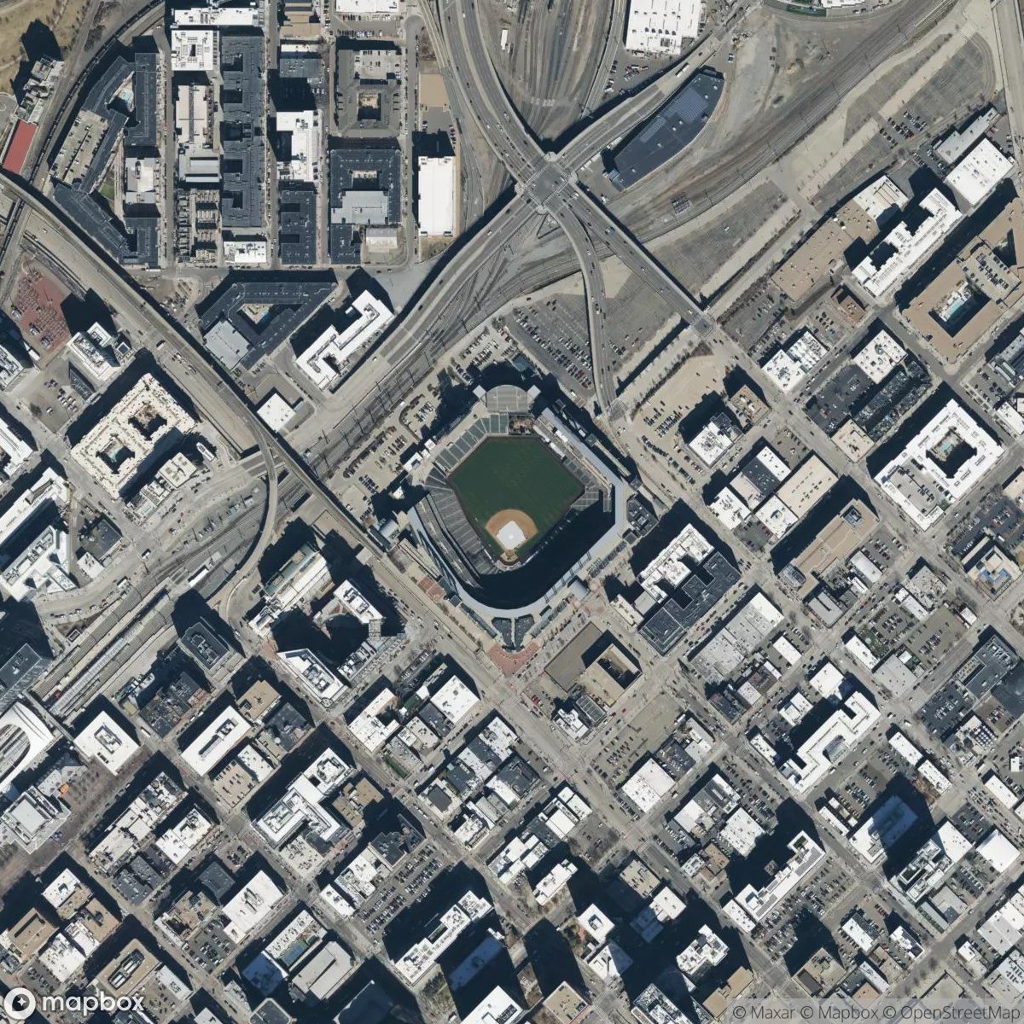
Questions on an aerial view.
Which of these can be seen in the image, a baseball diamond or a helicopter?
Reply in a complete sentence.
This aerial view contains a baseball diamond.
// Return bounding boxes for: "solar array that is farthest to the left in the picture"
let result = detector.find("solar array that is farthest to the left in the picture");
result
[641,116,665,141]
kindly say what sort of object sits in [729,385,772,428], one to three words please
shed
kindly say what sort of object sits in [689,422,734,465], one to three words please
building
